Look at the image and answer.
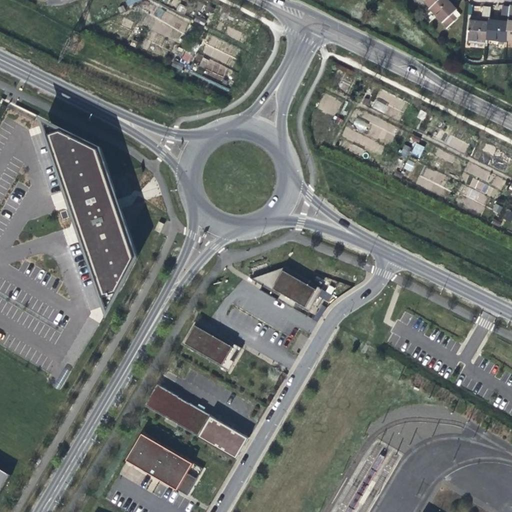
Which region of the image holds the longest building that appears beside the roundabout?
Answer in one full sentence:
Look in the left portion of the view to spot the longest building that appears beside the roundabout.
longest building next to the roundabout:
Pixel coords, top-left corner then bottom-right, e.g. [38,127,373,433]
[36,115,134,322]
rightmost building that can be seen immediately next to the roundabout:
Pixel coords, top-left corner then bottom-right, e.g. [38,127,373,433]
[252,268,332,322]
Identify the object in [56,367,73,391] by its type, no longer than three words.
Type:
vehicle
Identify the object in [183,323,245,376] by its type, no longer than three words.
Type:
building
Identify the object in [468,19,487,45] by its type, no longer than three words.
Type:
house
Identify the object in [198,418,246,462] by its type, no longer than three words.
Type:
building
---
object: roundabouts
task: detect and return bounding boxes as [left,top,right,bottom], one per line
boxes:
[125,78,349,288]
